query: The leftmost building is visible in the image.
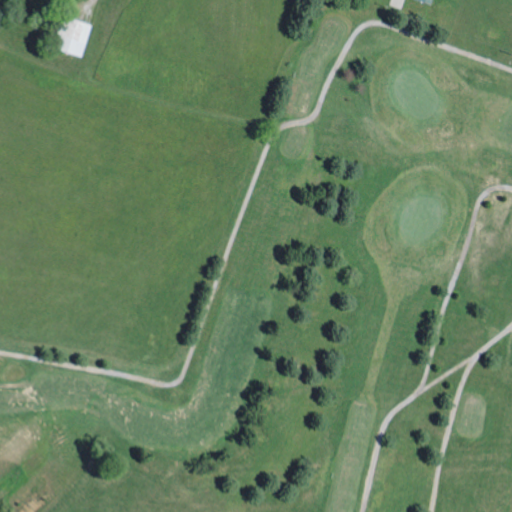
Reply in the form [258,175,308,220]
[59,19,92,58]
